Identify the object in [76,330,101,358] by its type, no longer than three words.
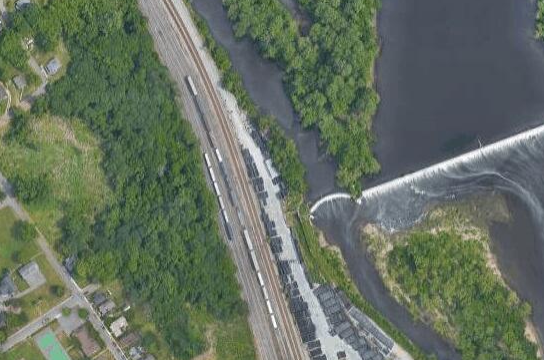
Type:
building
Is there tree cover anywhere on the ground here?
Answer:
Yes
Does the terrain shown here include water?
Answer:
Yes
